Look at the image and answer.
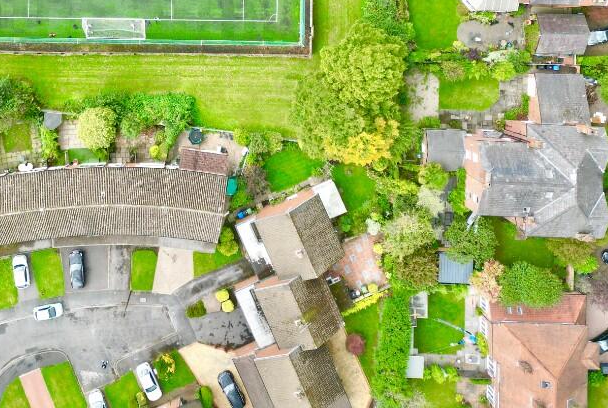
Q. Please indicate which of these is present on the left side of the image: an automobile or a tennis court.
automobile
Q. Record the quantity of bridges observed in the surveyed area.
0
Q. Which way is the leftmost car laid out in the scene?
from top to bottom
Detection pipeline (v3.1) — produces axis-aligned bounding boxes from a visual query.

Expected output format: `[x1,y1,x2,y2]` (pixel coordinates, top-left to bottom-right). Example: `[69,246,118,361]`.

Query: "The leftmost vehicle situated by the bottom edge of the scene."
[85,384,105,408]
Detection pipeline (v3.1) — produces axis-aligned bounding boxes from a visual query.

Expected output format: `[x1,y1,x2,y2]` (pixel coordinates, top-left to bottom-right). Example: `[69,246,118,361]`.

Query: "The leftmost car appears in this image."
[11,253,31,289]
